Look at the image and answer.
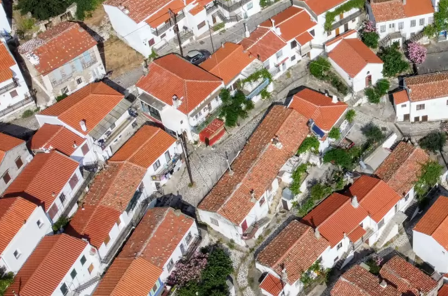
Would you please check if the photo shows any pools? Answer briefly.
No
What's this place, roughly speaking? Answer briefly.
residential area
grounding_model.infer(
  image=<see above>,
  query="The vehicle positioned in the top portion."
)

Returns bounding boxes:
[183,47,211,64]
